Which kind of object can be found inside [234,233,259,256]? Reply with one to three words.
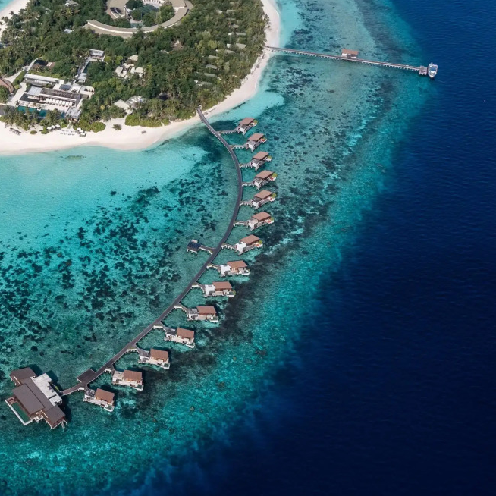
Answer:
house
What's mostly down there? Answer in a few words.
water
